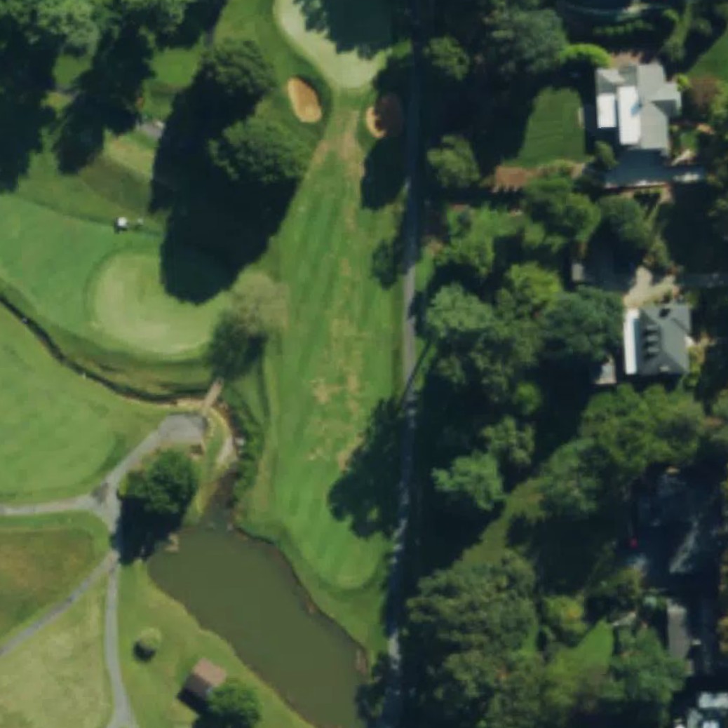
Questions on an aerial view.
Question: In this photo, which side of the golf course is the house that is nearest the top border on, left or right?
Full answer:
Looking at the picture, you'll find the house that is nearest the top border to the right of the golf course.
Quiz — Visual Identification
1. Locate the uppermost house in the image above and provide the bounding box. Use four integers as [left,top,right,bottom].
[596,62,683,150]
